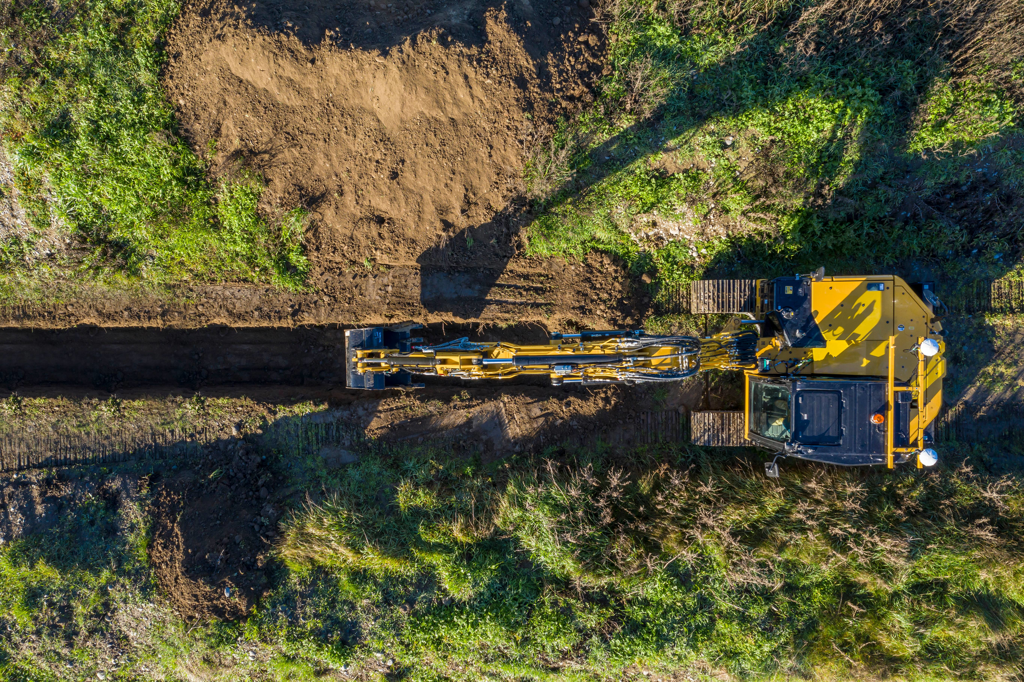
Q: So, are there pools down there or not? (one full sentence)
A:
No, there isn't any pool down there.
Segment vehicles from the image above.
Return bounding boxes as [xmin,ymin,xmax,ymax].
[345,267,950,476]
